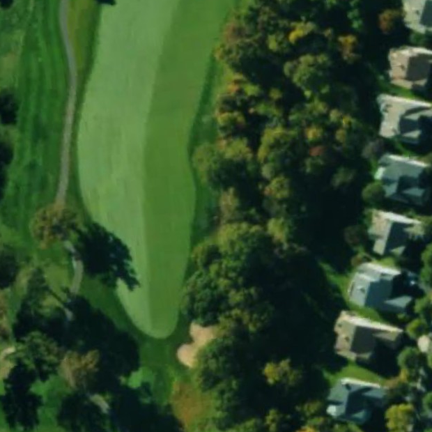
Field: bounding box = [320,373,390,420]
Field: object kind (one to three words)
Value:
house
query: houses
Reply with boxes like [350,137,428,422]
[400,0,432,32]
[381,42,432,88]
[320,373,390,420]
[373,88,432,139]
[362,205,429,252]
[343,257,414,313]
[360,151,432,205]
[335,308,404,356]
